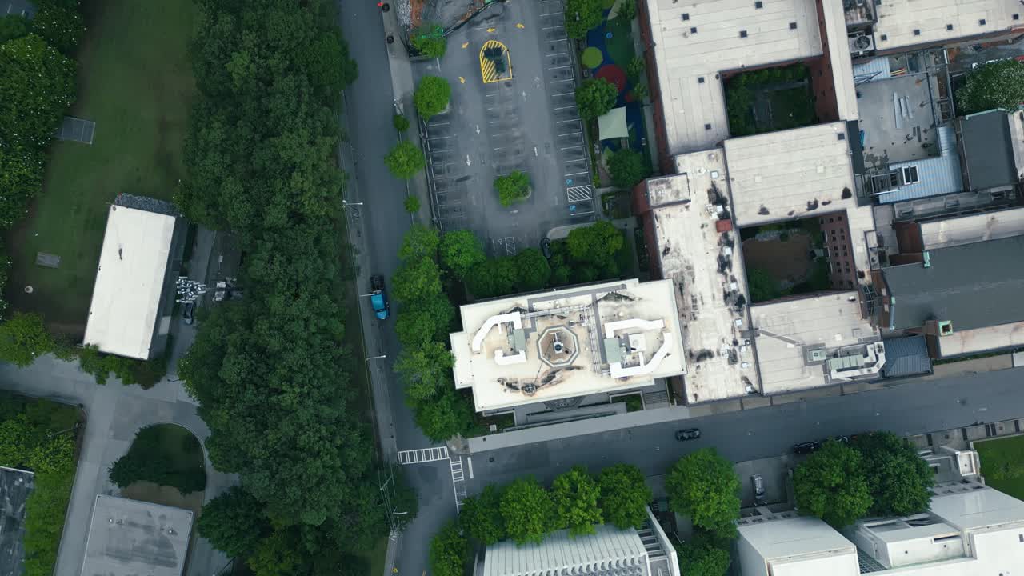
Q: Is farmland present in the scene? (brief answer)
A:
No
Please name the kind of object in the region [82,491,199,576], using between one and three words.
building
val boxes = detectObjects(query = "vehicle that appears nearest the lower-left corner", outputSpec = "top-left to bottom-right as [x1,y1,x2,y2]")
[183,302,196,324]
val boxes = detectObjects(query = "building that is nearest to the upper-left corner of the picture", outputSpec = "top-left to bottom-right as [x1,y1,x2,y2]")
[83,205,193,358]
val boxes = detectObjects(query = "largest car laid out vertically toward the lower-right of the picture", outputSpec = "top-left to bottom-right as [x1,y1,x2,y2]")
[751,474,765,501]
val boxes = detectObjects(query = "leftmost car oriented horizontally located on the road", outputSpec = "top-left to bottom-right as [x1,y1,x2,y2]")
[675,428,701,441]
